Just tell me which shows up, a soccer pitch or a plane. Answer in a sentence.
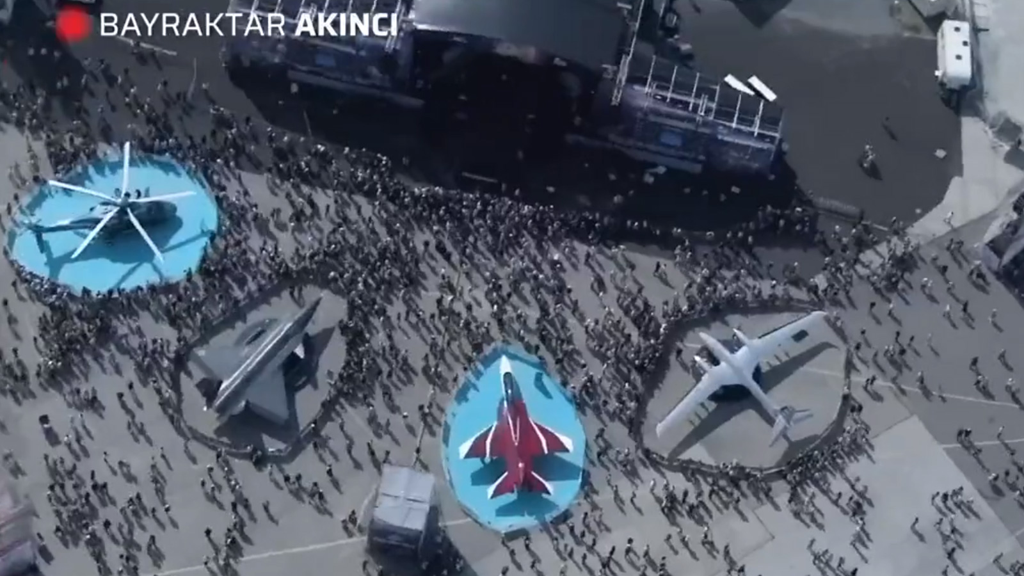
I can see a plane in this picture.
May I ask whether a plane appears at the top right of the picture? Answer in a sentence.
No, no plane can be made out at the top right of the picture.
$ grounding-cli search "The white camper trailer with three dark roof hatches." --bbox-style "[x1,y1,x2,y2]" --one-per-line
[929,21,970,109]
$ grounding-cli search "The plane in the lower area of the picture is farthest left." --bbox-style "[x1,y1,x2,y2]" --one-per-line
[189,297,322,426]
